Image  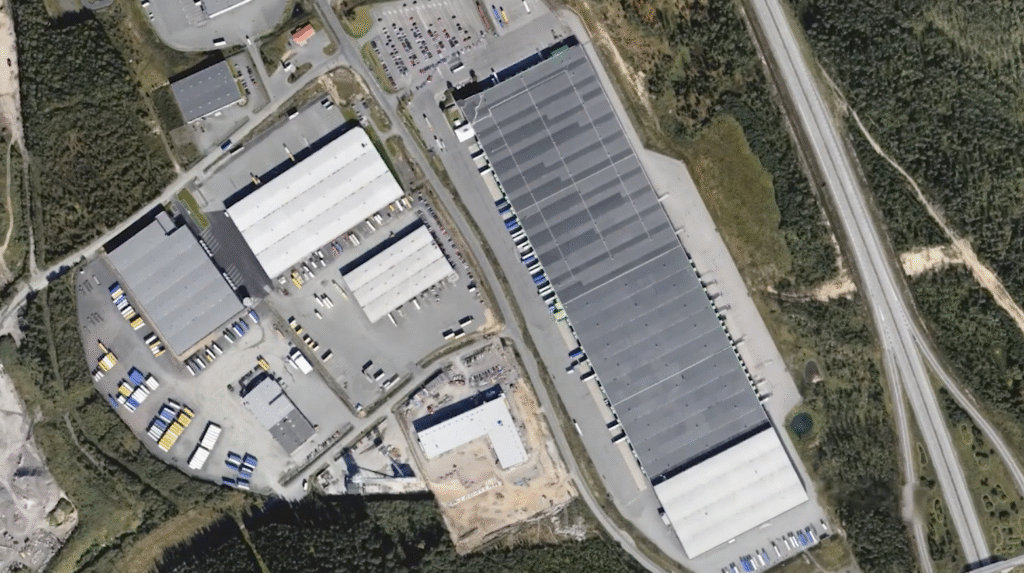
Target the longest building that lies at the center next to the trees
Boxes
[460,41,771,482]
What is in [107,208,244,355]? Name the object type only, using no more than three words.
warehouse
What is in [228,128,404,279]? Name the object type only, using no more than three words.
warehouse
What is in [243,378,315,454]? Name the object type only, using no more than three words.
building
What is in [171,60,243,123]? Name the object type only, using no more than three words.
building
